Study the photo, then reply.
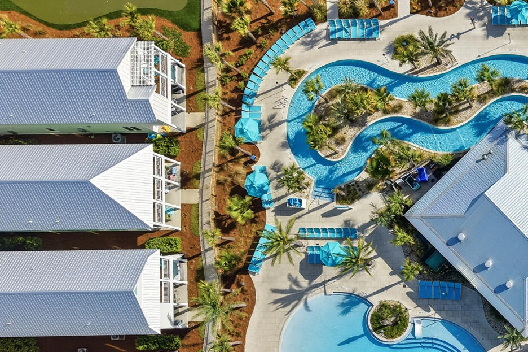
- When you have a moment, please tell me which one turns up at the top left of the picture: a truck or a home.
home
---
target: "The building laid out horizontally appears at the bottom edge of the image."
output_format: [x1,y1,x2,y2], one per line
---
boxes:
[0,250,191,335]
